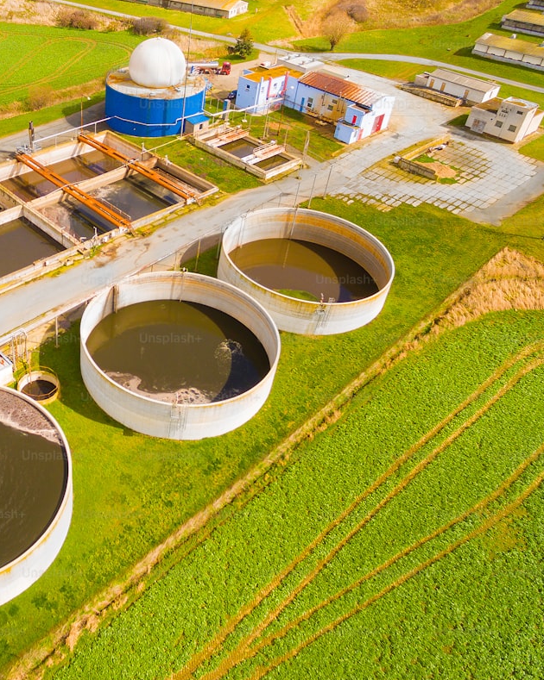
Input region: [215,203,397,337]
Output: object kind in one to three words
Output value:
storage tank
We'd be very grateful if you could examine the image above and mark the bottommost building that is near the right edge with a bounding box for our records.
[465,95,544,142]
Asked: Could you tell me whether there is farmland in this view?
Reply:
Yes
